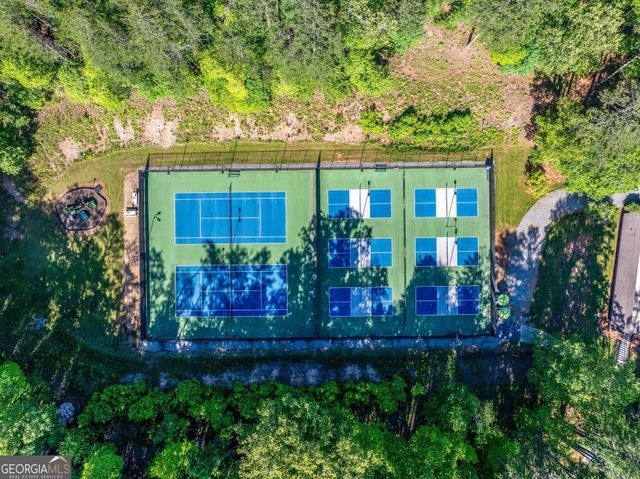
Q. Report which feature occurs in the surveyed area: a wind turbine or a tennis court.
tennis court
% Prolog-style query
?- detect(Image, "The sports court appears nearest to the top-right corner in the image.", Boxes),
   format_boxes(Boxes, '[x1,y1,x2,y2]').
[415,186,478,218]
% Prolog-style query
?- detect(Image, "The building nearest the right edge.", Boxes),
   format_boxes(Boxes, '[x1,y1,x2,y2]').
[606,212,640,328]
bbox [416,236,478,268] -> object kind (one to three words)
sports court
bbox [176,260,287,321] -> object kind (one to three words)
tennis court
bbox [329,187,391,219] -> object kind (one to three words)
sports court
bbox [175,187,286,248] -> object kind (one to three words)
tennis court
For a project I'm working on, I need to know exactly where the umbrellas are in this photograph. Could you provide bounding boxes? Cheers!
[496,294,509,306]
[498,306,510,318]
